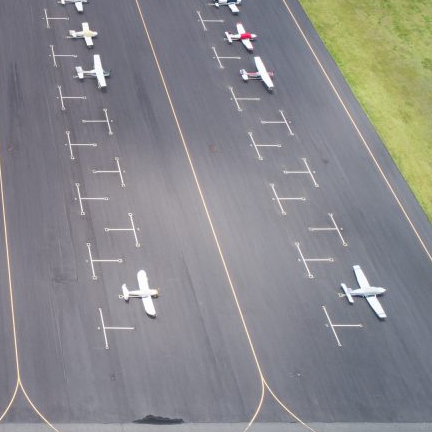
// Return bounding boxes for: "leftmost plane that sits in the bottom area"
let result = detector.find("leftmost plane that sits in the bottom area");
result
[122,271,160,315]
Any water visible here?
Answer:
No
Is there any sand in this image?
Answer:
No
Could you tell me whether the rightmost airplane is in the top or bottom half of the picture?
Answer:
bottom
